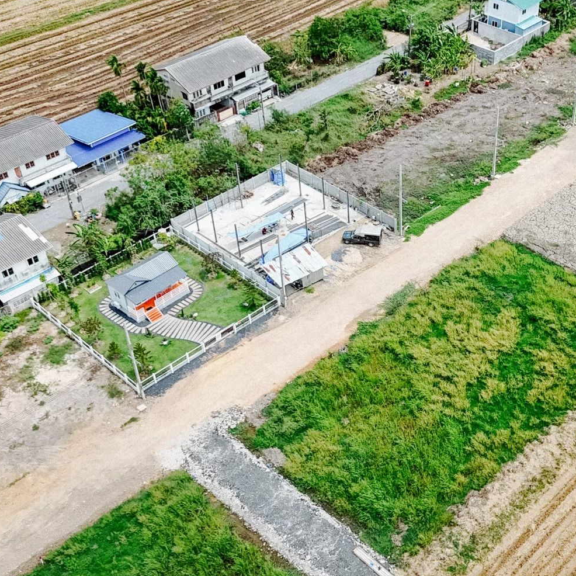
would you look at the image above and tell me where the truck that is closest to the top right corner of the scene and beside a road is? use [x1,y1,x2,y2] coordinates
[338,224,382,247]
